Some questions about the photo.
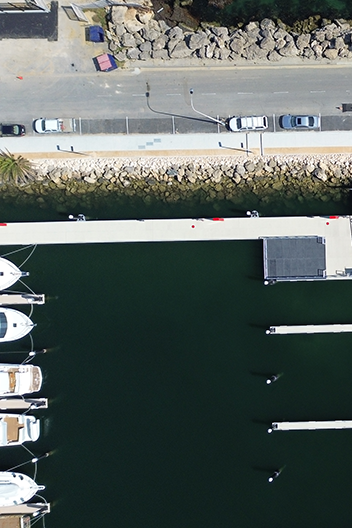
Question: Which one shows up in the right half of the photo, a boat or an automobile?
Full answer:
You can see an automobile in the right half of the photo.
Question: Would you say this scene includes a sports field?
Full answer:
No, the frame has no sports field in it.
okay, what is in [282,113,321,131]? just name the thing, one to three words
car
